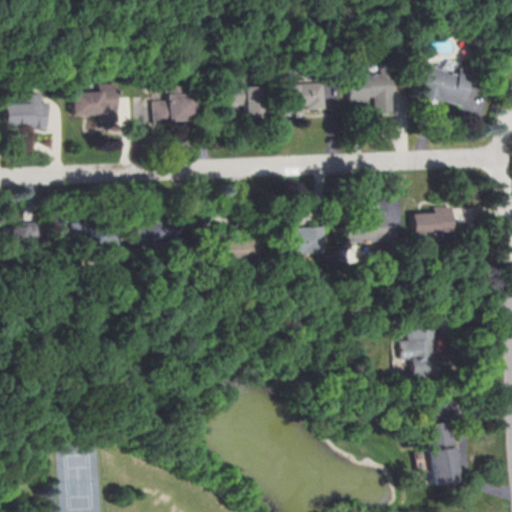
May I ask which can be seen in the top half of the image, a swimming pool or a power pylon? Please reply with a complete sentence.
What appears in the top half of the image is a swimming pool.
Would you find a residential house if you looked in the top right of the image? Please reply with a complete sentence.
Yes, a residential house is visible in the top right of the image.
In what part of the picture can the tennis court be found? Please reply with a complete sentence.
You can find the tennis court in the bottom left area of the picture.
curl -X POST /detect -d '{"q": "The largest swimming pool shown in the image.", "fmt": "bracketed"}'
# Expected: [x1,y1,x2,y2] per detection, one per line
[428,36,459,64]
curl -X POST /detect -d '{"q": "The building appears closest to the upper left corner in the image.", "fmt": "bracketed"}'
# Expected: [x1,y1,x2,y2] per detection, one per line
[8,92,48,130]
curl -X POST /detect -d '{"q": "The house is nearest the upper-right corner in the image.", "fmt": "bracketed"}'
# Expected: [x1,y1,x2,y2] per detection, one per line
[428,68,476,108]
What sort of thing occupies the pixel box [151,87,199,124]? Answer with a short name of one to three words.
house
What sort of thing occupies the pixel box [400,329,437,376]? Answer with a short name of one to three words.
house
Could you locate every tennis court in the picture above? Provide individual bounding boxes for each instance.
[56,444,102,512]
